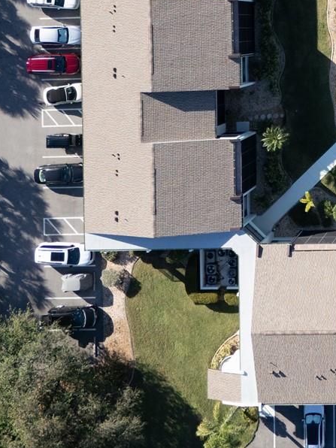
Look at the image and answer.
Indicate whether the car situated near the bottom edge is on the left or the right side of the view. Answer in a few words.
right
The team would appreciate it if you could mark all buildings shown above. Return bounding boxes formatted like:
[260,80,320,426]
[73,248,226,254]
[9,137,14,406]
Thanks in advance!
[251,228,336,405]
[80,0,260,238]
